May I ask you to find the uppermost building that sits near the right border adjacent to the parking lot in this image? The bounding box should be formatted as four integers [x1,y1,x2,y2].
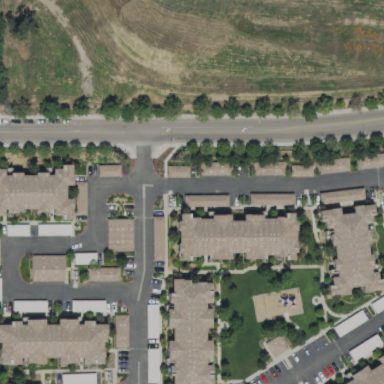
[320,206,382,298]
